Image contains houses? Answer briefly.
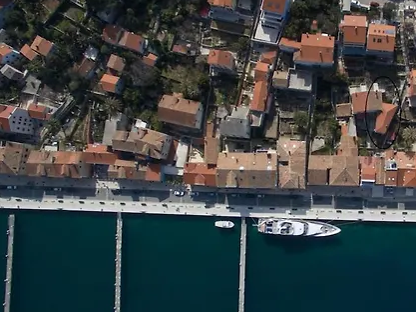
Yes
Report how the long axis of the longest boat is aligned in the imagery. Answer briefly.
from left to right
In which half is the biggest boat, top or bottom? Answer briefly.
bottom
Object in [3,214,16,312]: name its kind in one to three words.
pier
